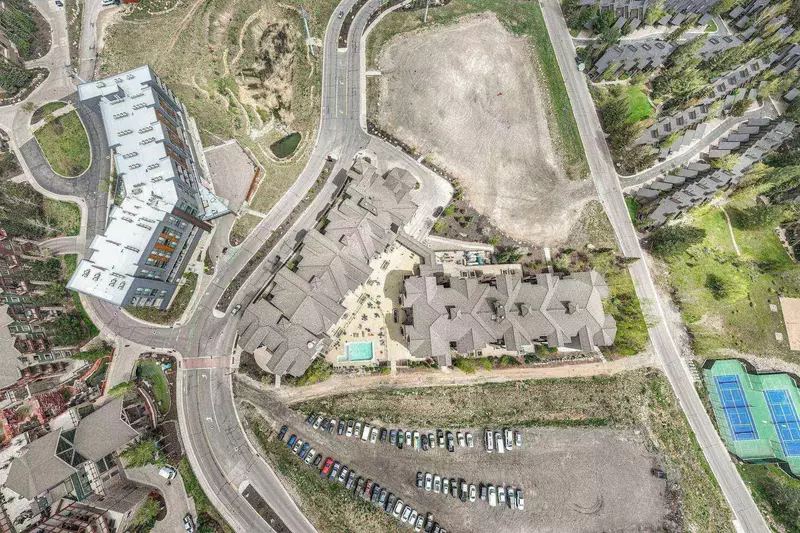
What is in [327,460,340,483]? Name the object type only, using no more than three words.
vehicle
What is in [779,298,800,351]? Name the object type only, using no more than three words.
sports court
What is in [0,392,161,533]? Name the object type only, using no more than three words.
building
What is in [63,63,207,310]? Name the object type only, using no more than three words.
building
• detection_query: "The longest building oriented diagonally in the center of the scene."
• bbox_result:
[230,156,419,385]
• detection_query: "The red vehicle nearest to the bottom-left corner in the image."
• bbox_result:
[320,457,333,478]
